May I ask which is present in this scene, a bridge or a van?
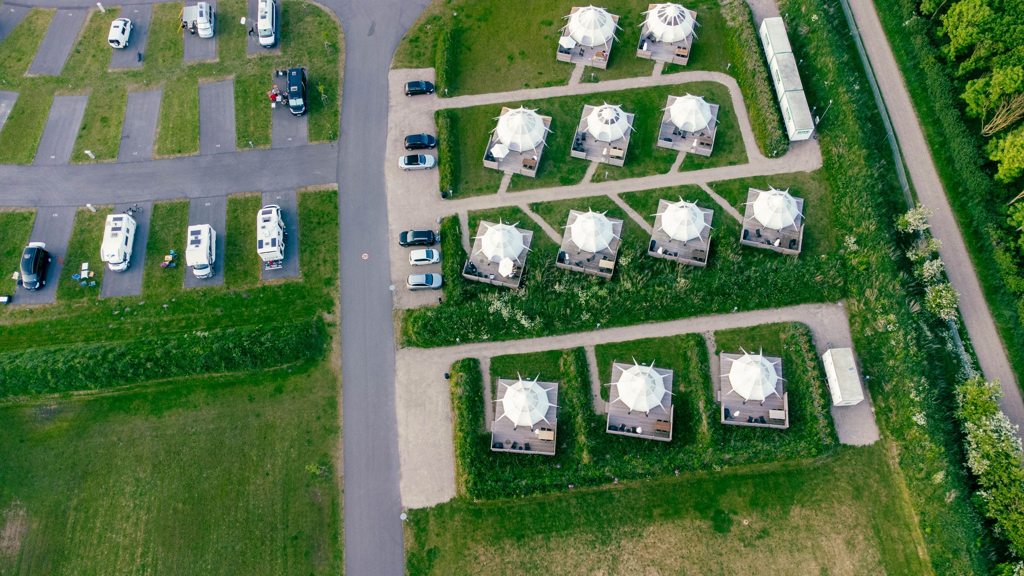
van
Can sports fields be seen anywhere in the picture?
Yes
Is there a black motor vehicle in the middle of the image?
Yes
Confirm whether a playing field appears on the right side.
No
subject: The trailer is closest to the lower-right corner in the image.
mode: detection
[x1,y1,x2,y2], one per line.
[823,343,865,406]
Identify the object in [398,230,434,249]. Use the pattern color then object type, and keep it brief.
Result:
black car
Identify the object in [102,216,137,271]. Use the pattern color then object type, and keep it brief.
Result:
white camper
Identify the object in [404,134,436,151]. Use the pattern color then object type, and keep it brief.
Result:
black car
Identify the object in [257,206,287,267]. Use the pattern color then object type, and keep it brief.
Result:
white camper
